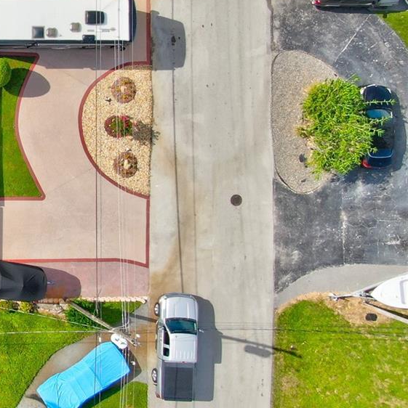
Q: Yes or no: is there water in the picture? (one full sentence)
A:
No, water can't be seen anywhere here.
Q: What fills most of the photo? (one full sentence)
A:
The scene is dominated by paved ground.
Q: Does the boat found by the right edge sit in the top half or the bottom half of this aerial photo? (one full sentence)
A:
The boat found by the right edge sits in the bottom half of the picture.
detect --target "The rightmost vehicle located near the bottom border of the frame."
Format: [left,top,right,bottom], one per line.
[150,291,199,400]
